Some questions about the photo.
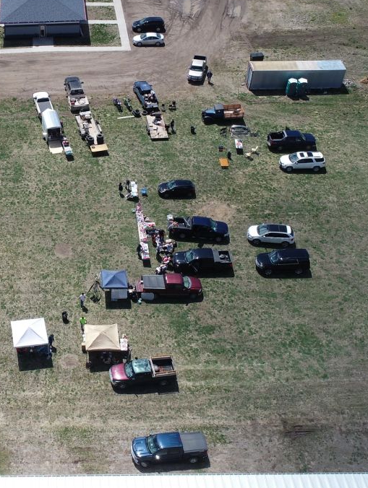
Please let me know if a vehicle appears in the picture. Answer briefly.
Yes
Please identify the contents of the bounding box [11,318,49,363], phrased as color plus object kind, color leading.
white tent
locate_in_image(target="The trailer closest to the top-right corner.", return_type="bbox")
[246,62,347,89]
